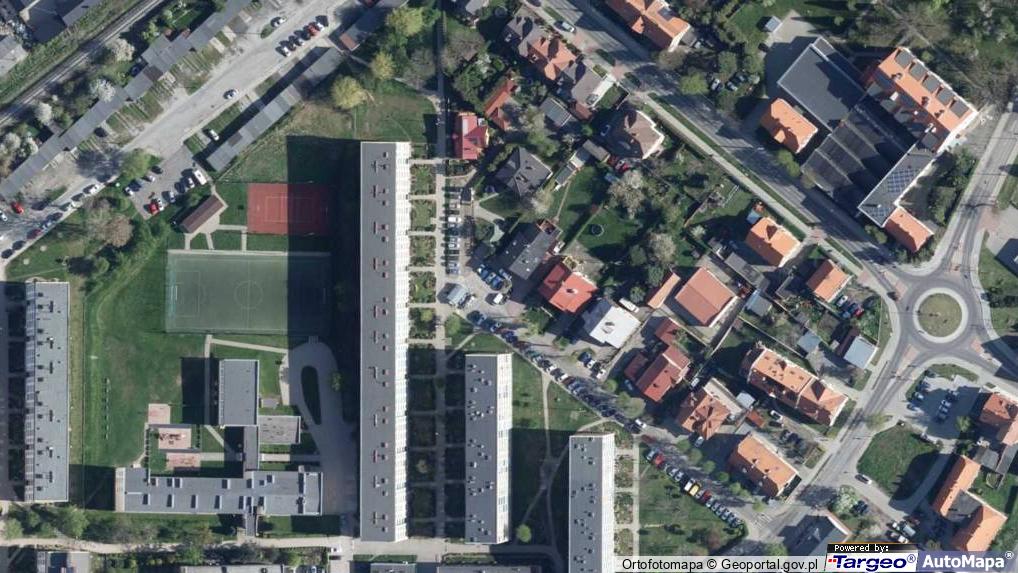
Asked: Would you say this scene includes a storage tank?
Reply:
No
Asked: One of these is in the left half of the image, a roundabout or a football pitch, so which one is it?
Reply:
football pitch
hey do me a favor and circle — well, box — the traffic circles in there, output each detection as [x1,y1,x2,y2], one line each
[887,238,1000,379]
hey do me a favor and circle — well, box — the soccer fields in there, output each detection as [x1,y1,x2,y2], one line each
[165,255,331,335]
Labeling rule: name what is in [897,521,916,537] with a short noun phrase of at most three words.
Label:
vehicle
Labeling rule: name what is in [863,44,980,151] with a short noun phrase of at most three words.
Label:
house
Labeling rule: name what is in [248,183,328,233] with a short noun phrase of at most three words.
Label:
sports court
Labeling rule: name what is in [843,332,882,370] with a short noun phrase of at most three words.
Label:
shed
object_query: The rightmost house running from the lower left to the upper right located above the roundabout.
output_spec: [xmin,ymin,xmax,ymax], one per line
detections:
[860,139,940,227]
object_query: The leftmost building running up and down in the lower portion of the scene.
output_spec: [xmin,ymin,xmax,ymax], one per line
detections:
[22,282,76,501]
